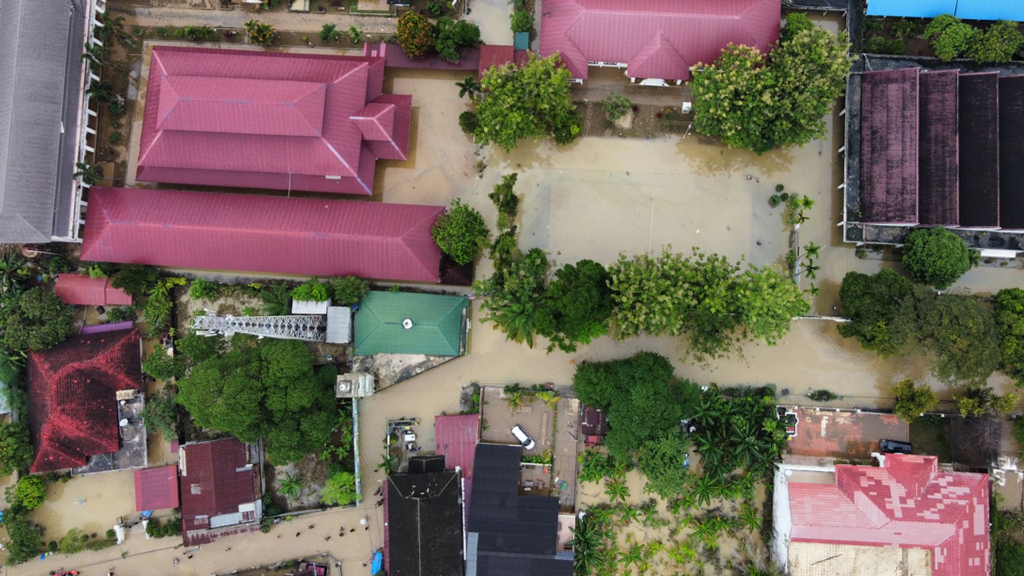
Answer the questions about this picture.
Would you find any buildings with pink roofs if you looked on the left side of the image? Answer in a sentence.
Yes, a building with a pink roof is visible on the left side of the image.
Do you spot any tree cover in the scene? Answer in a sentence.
Yes, there is tree cover in the image.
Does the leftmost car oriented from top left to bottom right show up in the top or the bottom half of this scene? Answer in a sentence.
It is in the bottom half that the leftmost car oriented from top left to bottom right appears.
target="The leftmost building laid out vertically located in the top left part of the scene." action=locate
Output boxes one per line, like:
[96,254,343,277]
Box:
[0,0,111,244]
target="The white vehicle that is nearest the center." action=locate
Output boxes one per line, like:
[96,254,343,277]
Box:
[508,422,537,452]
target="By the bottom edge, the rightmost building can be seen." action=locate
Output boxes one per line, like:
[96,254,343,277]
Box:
[772,452,990,576]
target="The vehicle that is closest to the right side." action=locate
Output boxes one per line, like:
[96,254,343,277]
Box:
[875,436,915,454]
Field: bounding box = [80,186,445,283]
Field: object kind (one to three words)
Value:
building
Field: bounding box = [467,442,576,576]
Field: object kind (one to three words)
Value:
house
